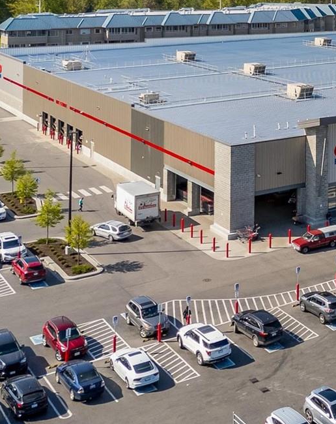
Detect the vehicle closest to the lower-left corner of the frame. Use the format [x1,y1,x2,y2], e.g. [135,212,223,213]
[1,379,48,424]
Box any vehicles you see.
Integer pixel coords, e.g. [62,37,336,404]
[178,327,232,368]
[124,300,168,340]
[83,221,137,243]
[0,330,29,383]
[1,379,48,424]
[265,409,306,424]
[303,388,336,424]
[12,260,46,285]
[0,230,26,263]
[44,320,87,361]
[100,178,153,225]
[233,313,285,350]
[0,202,6,219]
[55,363,106,408]
[298,294,336,327]
[292,226,336,254]
[109,352,162,395]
